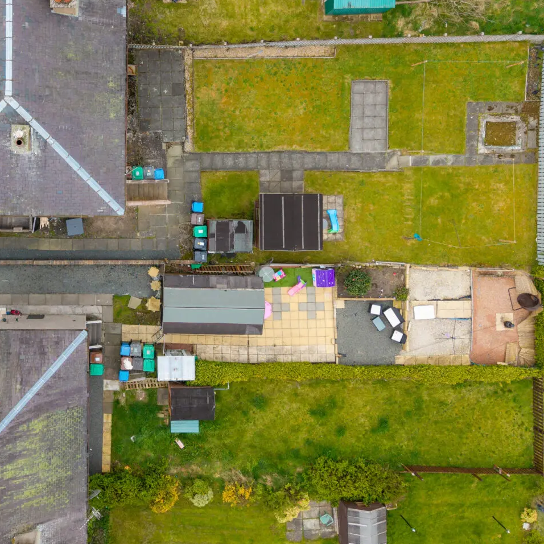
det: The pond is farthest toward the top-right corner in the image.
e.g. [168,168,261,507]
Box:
[479,114,527,153]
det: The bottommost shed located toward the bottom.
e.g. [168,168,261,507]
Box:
[339,496,388,544]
